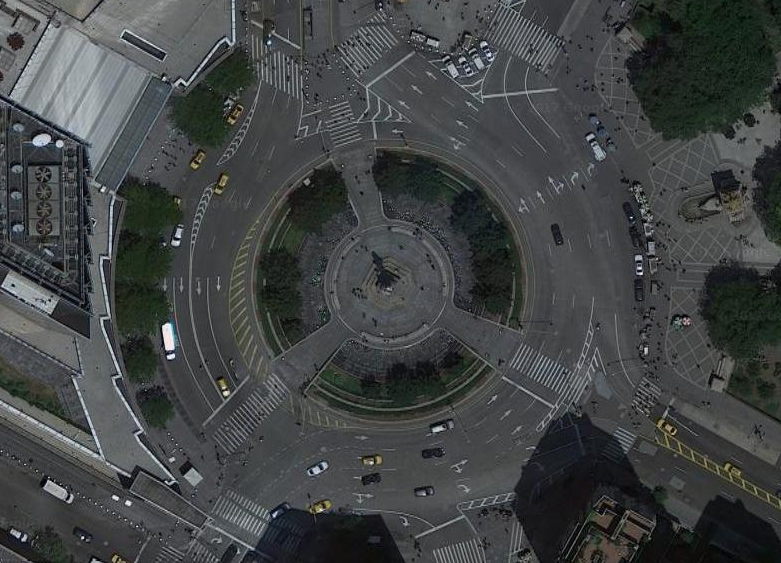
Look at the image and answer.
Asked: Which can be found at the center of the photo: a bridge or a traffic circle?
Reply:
traffic circle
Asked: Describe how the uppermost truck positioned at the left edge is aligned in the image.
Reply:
at an angle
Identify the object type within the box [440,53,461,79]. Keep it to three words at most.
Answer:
vehicle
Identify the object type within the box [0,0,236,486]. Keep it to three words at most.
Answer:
building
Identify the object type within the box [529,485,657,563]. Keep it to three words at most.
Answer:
building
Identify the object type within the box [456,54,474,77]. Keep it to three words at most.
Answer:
car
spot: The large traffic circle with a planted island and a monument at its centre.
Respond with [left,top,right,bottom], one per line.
[182,77,599,493]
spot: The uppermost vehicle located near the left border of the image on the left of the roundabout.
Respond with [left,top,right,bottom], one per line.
[37,474,76,507]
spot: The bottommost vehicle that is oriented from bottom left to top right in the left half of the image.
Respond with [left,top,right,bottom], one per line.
[219,540,241,563]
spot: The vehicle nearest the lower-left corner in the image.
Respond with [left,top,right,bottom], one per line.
[7,526,30,545]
